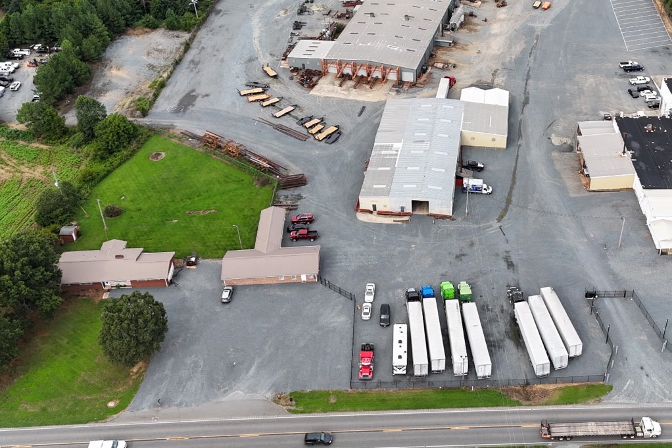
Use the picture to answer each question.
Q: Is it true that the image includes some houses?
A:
Yes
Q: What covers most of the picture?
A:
paved ground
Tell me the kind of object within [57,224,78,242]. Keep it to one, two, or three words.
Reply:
shed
